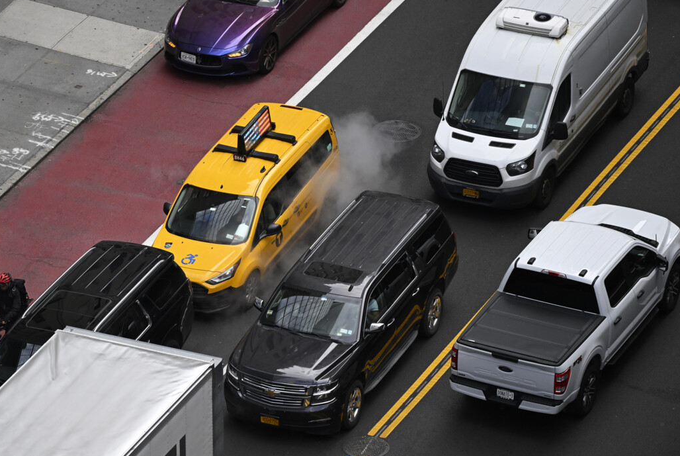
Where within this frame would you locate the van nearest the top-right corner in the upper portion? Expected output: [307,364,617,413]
[424,0,648,216]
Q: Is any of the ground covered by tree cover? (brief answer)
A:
No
